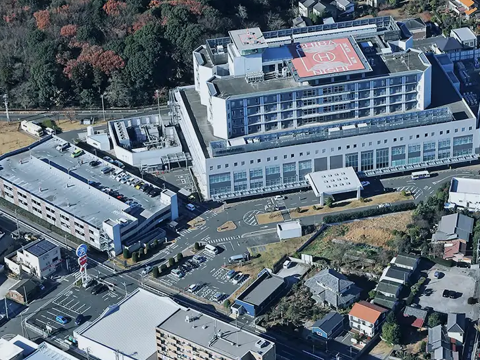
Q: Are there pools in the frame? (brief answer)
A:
No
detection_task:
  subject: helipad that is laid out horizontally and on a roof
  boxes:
[284,36,366,77]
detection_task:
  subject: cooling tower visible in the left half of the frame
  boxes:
[116,122,132,151]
